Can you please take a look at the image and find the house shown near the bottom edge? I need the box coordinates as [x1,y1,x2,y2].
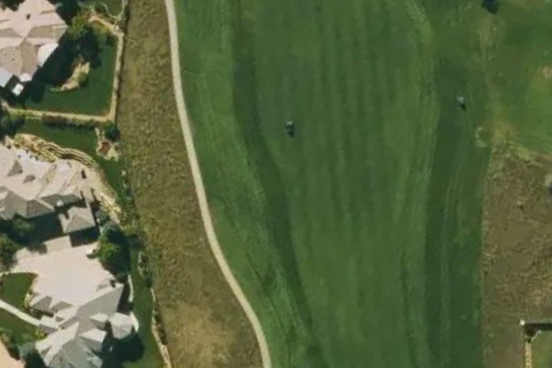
[31,266,137,368]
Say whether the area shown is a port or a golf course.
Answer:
golf course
